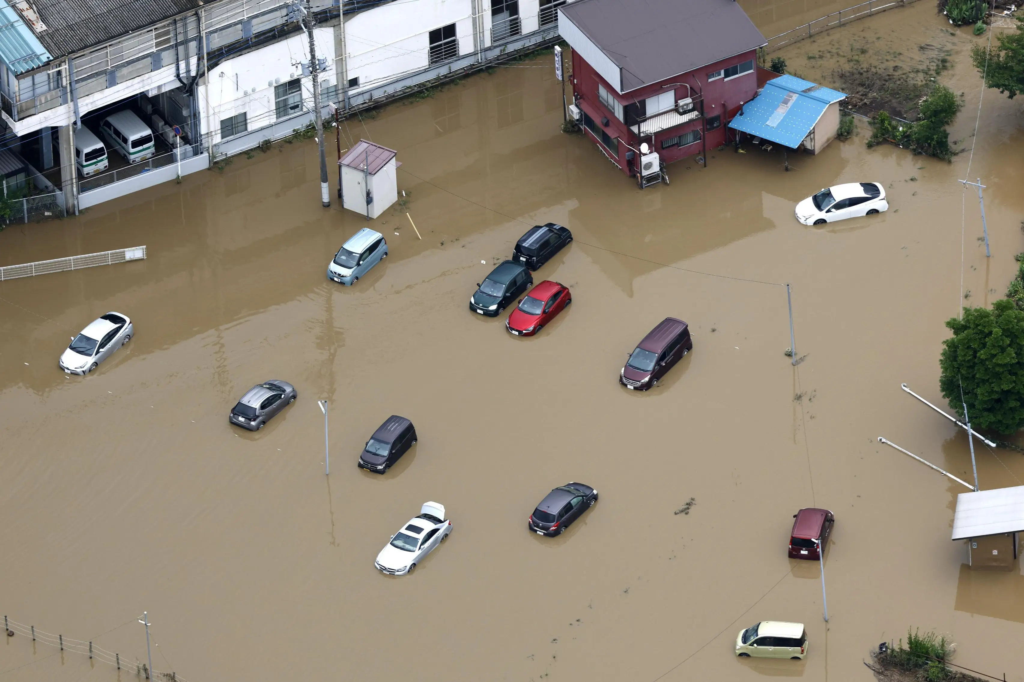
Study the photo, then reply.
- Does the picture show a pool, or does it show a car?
car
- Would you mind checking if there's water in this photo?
Yes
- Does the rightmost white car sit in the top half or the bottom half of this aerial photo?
top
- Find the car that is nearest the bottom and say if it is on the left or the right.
right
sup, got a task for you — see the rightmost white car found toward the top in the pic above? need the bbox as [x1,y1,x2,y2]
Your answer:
[793,181,889,225]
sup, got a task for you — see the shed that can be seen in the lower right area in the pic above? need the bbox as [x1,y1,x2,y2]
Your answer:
[951,482,1024,573]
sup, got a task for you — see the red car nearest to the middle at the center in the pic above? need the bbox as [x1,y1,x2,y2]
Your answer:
[504,277,573,336]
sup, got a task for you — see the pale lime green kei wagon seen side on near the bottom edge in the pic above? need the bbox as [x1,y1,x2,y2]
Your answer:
[732,623,808,661]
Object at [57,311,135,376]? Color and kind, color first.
white car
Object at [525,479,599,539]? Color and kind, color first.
gray car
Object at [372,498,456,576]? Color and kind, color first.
white car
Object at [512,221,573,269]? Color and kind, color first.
black car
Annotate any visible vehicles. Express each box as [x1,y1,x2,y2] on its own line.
[227,376,298,432]
[525,479,599,539]
[357,413,418,474]
[57,311,135,376]
[732,623,808,661]
[504,277,573,336]
[789,510,831,562]
[71,125,108,176]
[512,221,573,269]
[326,227,387,286]
[100,111,155,163]
[469,259,533,317]
[372,498,456,576]
[619,315,695,391]
[793,181,889,225]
